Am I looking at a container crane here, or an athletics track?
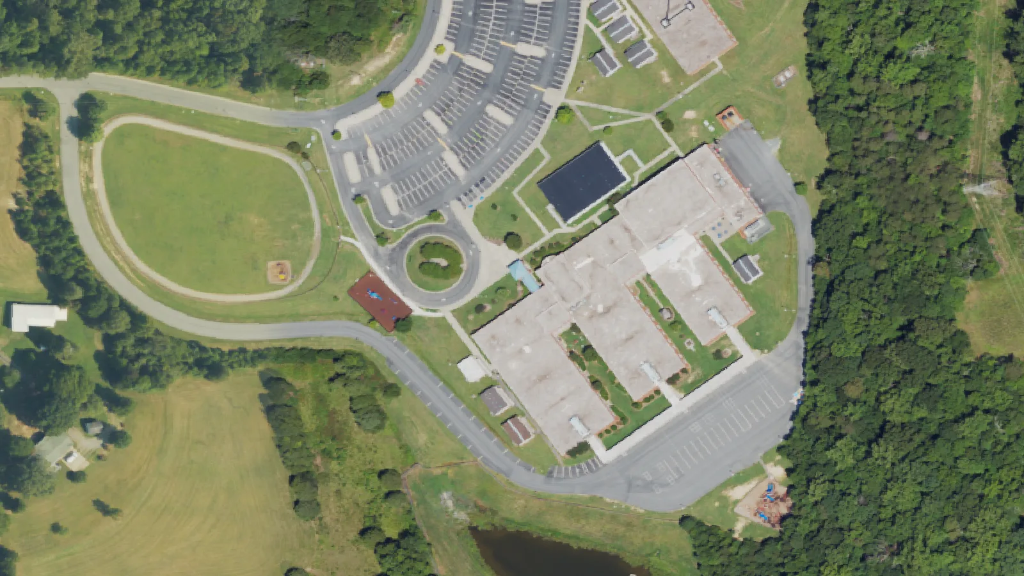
athletics track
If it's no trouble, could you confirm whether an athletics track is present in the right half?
No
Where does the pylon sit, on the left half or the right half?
right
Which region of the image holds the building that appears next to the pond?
center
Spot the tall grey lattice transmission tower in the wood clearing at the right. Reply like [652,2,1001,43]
[967,176,1003,199]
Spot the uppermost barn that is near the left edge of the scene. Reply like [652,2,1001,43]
[13,304,69,332]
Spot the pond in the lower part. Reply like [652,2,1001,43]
[467,524,656,576]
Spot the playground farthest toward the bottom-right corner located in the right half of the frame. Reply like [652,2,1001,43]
[736,478,794,528]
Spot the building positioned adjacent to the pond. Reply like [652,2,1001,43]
[472,145,761,456]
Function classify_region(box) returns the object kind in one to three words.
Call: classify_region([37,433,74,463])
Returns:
house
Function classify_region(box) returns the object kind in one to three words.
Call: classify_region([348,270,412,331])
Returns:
playground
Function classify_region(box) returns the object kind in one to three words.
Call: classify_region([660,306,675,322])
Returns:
gazebo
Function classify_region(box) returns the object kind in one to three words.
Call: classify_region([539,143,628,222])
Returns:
building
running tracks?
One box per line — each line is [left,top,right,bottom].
[94,116,321,302]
